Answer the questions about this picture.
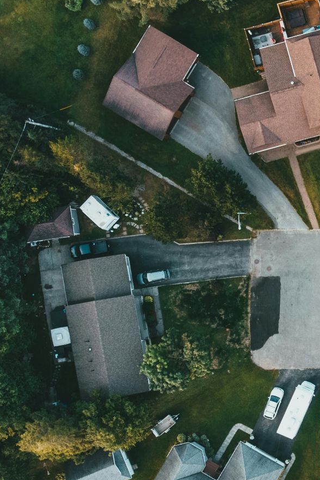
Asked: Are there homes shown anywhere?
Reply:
Yes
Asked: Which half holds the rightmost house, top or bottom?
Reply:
top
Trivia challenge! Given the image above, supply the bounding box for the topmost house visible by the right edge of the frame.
[235,30,320,155]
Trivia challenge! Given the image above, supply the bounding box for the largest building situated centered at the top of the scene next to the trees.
[103,25,201,145]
